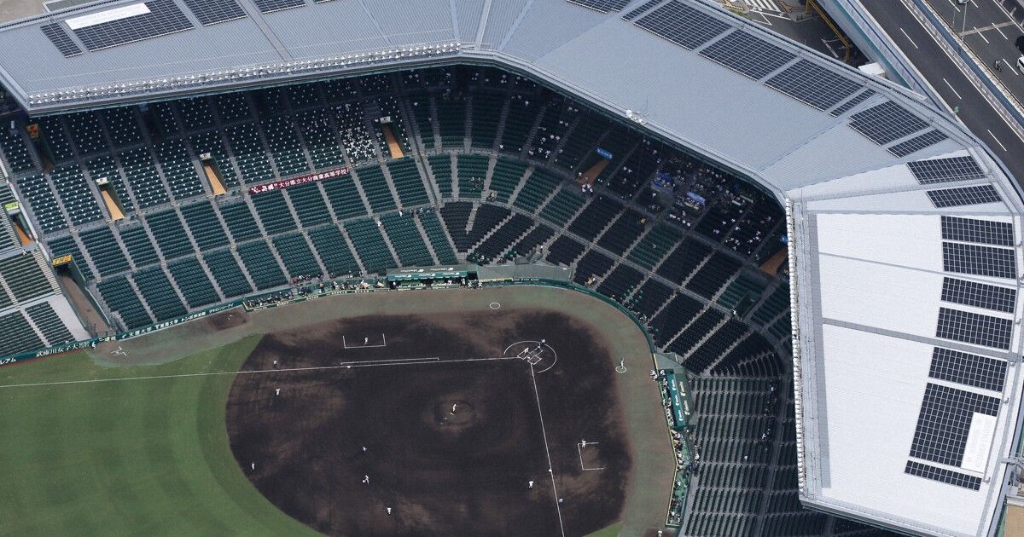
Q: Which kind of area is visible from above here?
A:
sports ground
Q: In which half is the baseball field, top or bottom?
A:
bottom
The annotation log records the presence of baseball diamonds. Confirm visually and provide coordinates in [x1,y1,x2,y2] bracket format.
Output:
[0,281,689,537]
